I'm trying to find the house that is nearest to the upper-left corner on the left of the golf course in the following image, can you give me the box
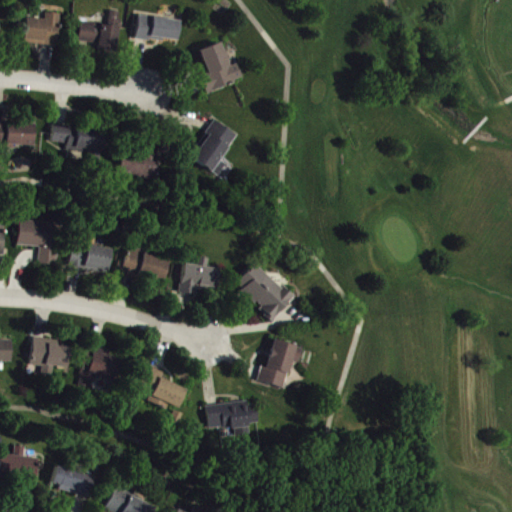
[24,12,61,44]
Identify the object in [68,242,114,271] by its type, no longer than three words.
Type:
house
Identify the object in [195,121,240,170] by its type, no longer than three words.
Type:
house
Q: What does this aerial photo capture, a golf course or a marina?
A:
golf course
